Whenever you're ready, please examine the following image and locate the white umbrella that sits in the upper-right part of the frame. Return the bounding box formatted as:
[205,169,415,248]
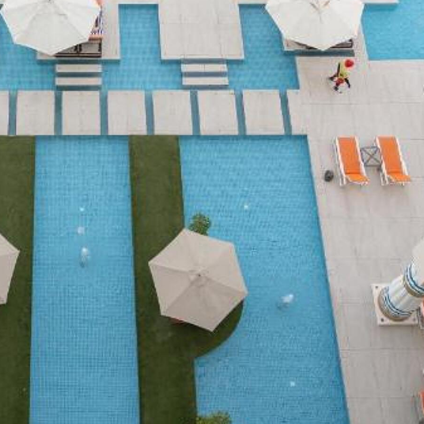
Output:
[267,0,363,59]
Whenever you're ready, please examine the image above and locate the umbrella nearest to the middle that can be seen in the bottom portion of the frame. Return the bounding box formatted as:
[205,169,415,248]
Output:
[147,228,249,332]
